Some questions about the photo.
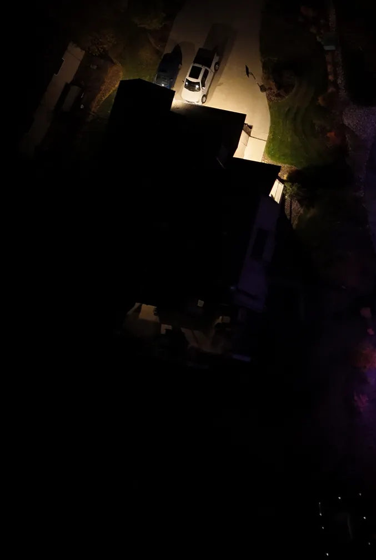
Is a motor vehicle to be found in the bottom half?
No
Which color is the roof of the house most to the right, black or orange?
black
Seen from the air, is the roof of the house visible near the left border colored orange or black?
black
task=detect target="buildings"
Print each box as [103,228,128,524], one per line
[0,0,85,168]
[105,75,284,313]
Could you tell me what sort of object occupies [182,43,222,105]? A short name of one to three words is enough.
truck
